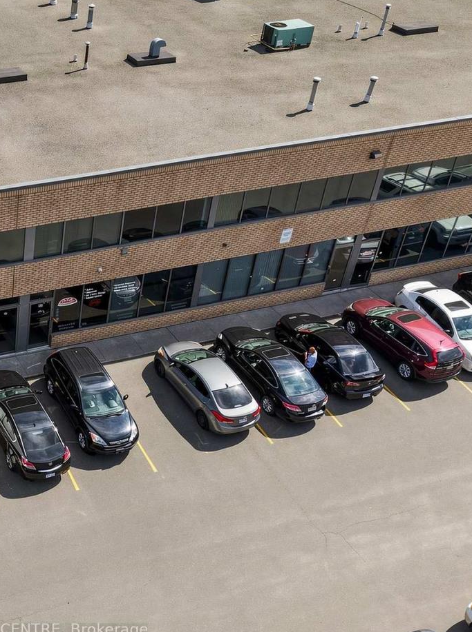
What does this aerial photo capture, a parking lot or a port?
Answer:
parking lot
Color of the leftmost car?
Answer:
black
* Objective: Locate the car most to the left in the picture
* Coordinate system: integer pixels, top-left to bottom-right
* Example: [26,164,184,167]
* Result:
[0,371,63,476]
